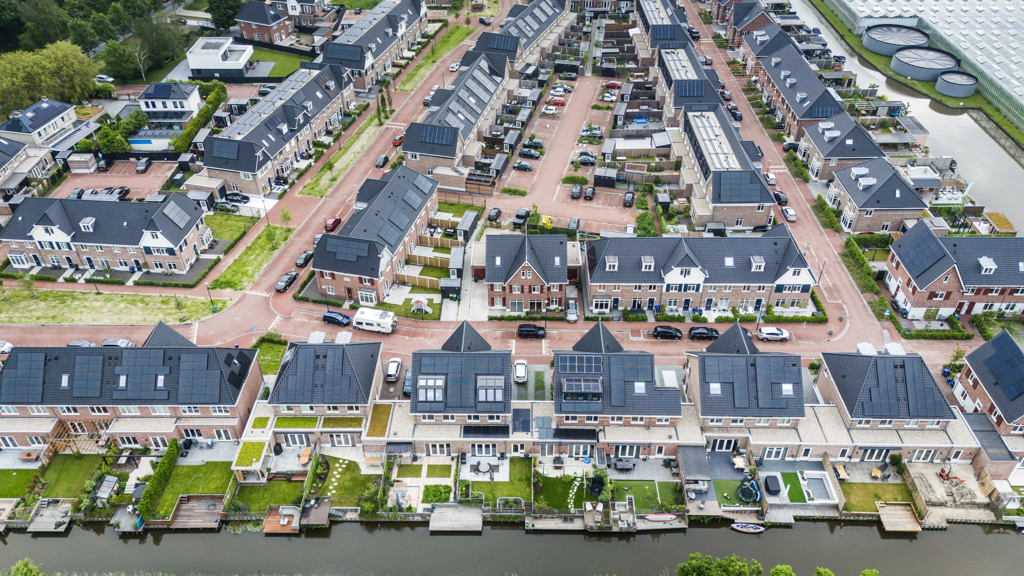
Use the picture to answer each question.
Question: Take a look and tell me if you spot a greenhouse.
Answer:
Yes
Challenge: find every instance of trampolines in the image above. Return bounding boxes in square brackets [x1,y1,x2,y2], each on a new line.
[731,473,766,508]
[583,471,610,501]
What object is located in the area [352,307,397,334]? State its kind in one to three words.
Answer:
camper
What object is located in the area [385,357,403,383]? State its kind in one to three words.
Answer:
car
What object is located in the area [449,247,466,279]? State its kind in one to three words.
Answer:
shed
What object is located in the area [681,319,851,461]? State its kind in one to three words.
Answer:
house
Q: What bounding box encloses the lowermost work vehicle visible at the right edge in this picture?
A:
[938,463,977,488]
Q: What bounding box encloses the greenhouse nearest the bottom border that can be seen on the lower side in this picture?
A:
[87,461,135,503]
